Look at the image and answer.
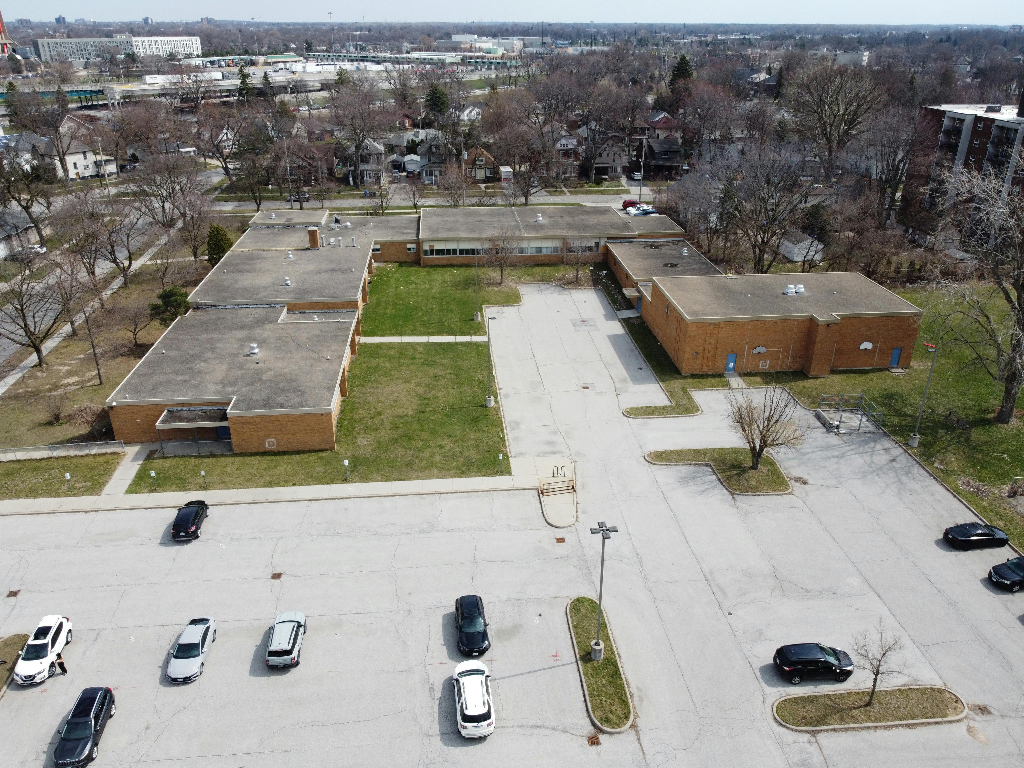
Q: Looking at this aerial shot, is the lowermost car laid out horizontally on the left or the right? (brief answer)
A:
right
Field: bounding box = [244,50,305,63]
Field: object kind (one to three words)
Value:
building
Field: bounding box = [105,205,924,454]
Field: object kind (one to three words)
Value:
building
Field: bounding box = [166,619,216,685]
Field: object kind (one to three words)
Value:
car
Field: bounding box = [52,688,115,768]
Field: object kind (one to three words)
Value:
car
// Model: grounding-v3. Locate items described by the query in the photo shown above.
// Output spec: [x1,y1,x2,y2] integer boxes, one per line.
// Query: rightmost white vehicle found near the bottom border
[453,659,495,739]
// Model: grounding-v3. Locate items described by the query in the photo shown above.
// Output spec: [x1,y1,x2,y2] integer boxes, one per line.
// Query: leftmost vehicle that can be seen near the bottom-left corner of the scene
[12,617,71,688]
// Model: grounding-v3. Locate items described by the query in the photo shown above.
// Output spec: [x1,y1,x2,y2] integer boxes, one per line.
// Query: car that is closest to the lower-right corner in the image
[992,561,1024,592]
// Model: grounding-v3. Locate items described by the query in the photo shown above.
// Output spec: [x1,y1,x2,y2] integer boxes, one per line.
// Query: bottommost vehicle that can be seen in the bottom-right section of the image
[771,642,858,684]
